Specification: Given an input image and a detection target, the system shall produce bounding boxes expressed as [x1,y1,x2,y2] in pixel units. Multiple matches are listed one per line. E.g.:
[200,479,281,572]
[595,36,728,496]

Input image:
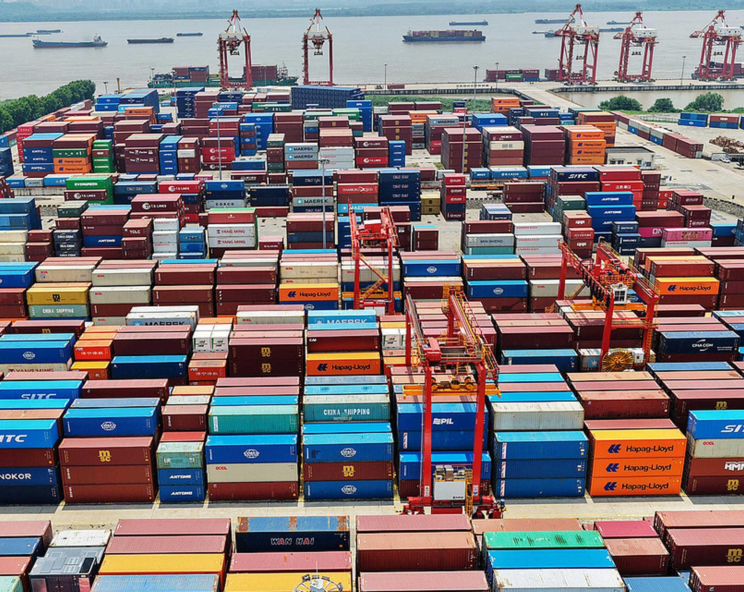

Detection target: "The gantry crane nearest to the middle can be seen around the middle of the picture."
[339,202,402,330]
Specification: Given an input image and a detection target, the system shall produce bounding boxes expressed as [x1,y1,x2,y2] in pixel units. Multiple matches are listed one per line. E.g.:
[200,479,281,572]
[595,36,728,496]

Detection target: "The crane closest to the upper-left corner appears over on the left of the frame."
[220,10,256,89]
